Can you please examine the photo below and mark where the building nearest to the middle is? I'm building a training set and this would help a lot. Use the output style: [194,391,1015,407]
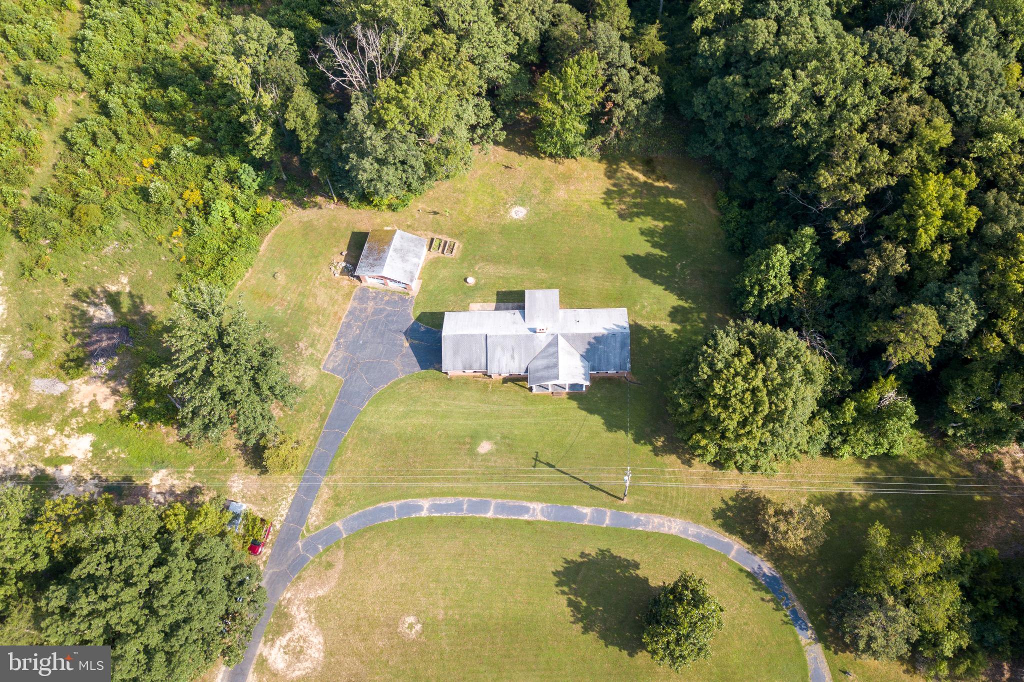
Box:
[441,289,632,400]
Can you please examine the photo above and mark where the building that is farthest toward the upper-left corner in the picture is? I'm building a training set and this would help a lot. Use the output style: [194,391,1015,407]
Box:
[354,227,428,292]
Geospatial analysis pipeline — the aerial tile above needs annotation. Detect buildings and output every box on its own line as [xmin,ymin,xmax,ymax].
[354,227,428,292]
[441,289,632,400]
